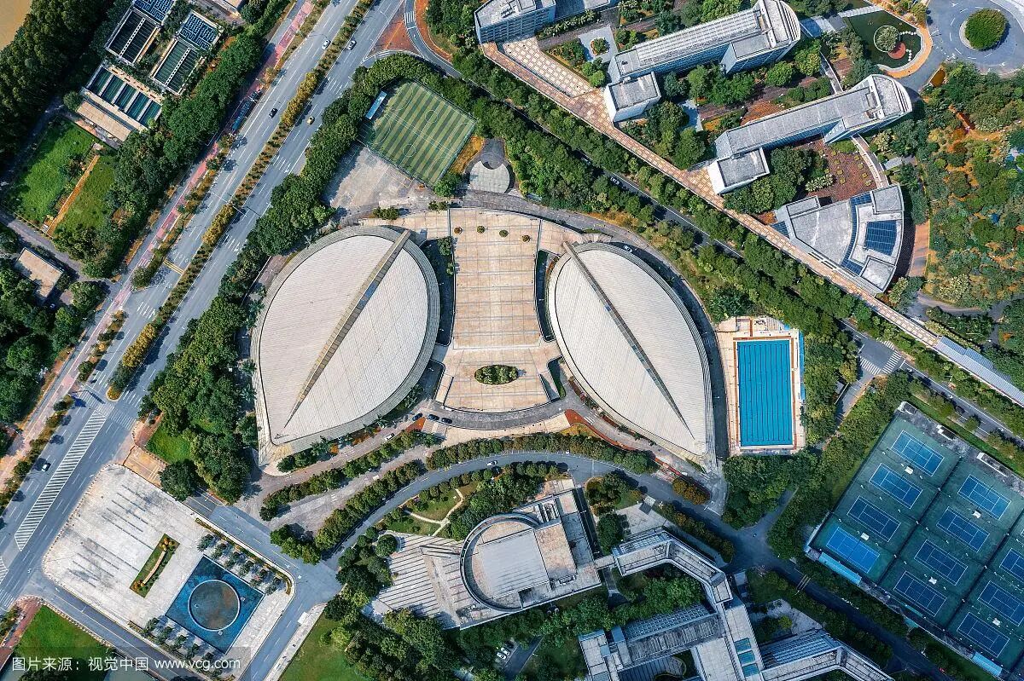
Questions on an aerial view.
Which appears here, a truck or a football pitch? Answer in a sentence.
There is a football pitch in the scene.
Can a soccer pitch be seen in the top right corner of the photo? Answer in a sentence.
No, there is no soccer pitch in the top right corner of the photo.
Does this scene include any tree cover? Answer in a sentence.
Yes, there's tree cover in this view.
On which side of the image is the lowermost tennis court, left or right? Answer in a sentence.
The lowermost tennis court is on the right side of the image.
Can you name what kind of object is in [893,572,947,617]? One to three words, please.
tennis court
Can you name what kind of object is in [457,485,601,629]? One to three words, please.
building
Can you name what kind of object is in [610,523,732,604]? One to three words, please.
building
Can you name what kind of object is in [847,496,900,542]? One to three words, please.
tennis court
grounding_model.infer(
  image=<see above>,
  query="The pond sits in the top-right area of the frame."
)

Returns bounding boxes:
[843,0,924,72]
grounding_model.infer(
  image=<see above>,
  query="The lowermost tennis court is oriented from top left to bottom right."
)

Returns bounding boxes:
[956,613,1010,658]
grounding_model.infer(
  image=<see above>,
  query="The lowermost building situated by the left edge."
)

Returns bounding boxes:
[16,248,68,301]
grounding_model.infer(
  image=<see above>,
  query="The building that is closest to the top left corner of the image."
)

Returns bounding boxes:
[76,100,136,141]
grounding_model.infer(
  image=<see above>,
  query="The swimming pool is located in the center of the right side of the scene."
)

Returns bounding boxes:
[715,316,805,454]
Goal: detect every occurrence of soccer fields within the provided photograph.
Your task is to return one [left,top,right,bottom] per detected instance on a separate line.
[362,82,475,185]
